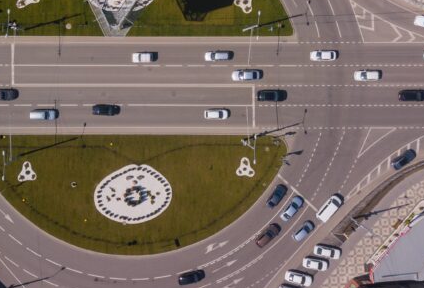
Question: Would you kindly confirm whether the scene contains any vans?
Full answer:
Yes, the image includes a van.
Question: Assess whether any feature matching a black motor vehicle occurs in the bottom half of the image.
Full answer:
Yes, the scene does show a black motor vehicle in the bottom half of the image.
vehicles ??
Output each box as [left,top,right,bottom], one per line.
[398,88,424,102]
[30,108,59,121]
[92,104,119,116]
[353,69,381,82]
[205,50,230,62]
[203,109,229,121]
[266,184,288,208]
[177,268,206,286]
[315,194,345,224]
[233,69,260,82]
[281,195,305,222]
[313,244,343,260]
[257,89,286,102]
[302,256,329,272]
[311,50,335,62]
[284,269,312,286]
[413,14,424,27]
[389,147,417,171]
[131,52,157,64]
[256,223,281,249]
[293,219,316,242]
[0,88,17,101]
